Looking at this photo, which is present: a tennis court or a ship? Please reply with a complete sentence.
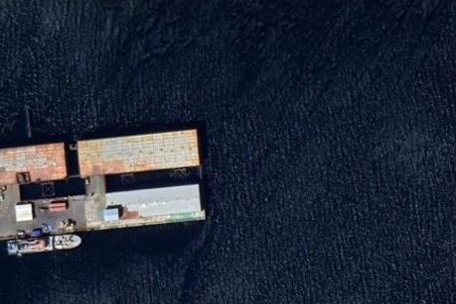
Visible in the photo is a ship.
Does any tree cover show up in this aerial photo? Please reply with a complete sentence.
No, no tree cover is visible.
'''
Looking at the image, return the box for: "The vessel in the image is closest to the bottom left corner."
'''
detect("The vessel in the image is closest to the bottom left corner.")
[7,236,83,258]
